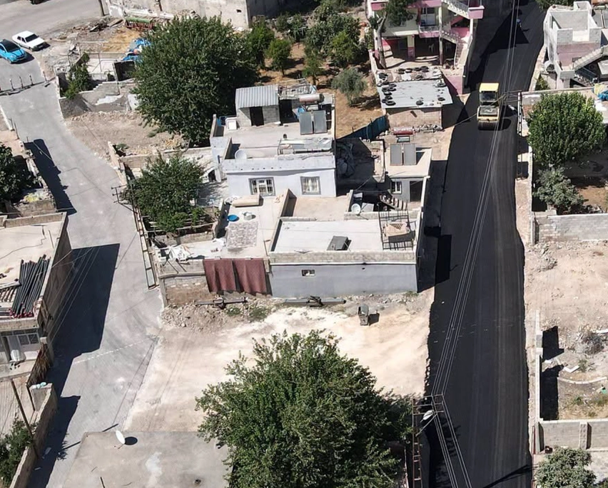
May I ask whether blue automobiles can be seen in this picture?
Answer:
Yes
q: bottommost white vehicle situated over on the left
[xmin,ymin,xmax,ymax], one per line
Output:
[10,29,45,51]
